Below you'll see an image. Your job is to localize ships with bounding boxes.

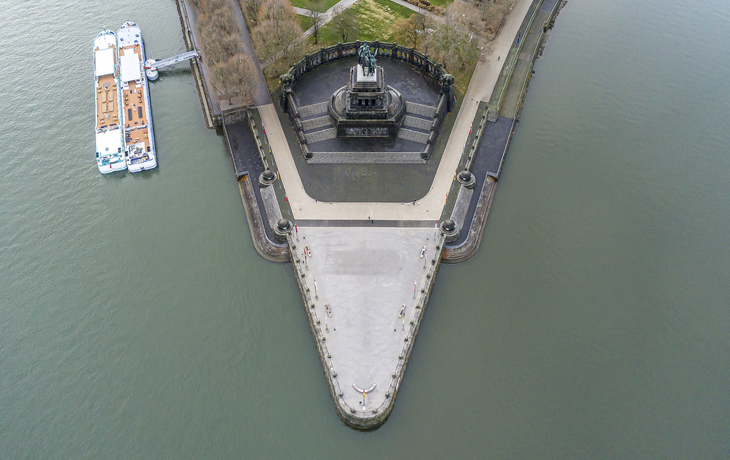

[118,19,160,173]
[94,22,128,173]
